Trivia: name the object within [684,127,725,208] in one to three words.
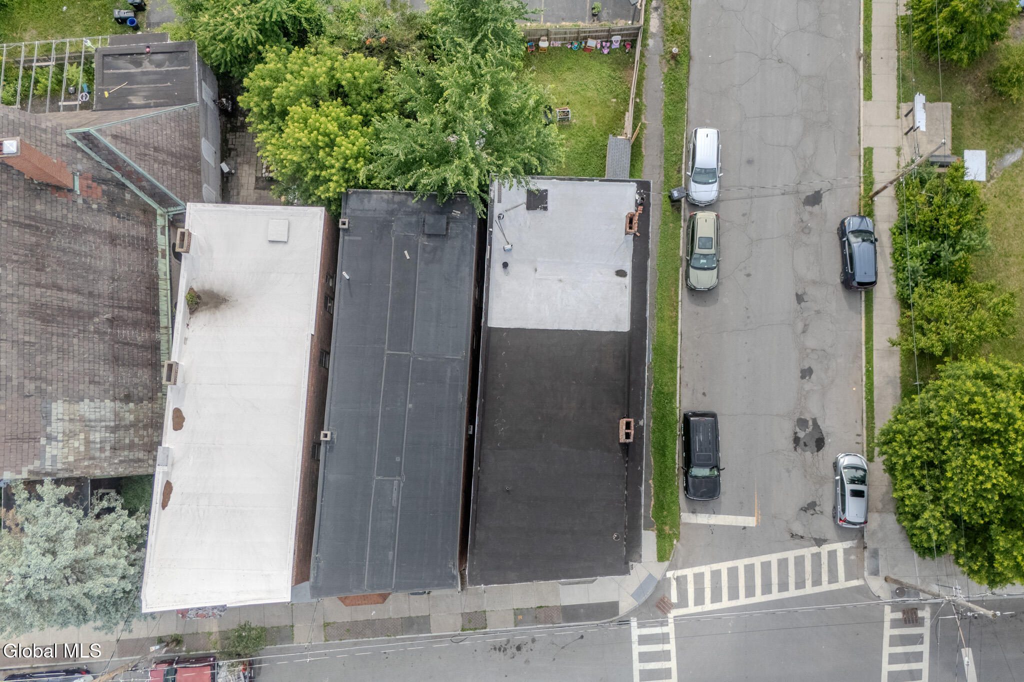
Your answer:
car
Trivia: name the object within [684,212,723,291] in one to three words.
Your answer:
car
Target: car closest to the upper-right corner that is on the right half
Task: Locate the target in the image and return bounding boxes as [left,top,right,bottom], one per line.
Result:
[837,215,881,293]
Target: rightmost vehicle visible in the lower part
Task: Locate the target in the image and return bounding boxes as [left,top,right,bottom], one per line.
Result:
[830,449,875,531]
